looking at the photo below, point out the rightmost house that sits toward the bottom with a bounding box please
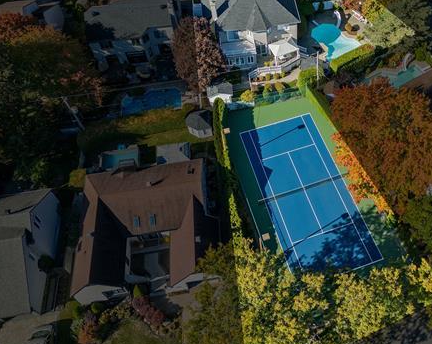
[70,158,222,300]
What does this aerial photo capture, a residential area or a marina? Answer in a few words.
residential area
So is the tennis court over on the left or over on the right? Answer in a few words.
right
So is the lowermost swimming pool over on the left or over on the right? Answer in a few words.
left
